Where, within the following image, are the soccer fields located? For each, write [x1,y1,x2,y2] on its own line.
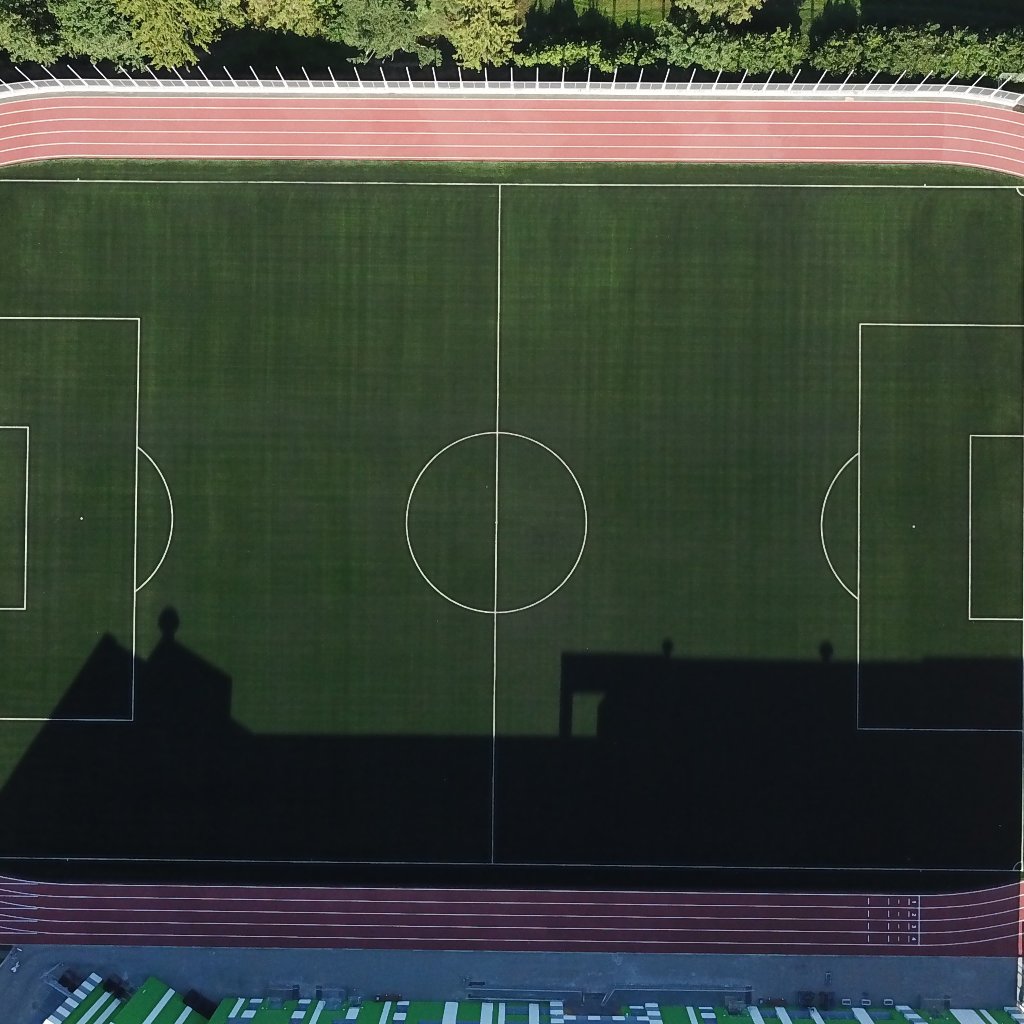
[0,175,1024,876]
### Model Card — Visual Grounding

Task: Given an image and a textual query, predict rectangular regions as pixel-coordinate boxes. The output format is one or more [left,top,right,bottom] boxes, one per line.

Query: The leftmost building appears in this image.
[44,971,130,1024]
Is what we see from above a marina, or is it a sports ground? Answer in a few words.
sports ground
